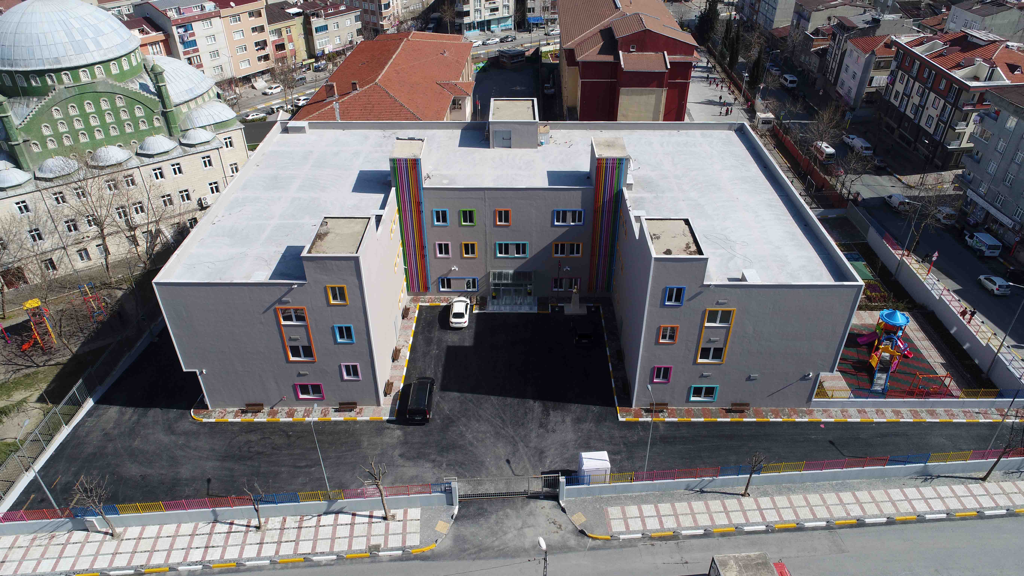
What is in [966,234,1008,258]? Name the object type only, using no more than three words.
vehicle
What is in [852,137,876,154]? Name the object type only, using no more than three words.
vehicle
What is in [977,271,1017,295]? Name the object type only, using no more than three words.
car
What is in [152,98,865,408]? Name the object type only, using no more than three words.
building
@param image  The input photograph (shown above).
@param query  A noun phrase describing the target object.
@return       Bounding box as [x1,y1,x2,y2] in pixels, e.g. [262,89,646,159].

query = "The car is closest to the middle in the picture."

[451,295,472,322]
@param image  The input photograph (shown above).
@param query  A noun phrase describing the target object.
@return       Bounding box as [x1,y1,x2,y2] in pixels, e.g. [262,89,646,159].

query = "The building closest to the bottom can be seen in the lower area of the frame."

[577,447,611,481]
